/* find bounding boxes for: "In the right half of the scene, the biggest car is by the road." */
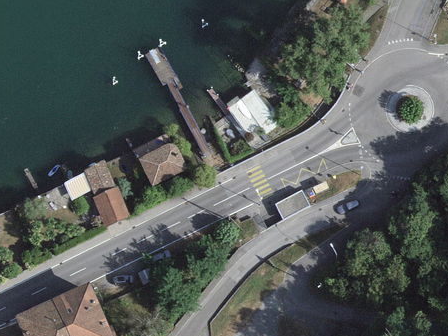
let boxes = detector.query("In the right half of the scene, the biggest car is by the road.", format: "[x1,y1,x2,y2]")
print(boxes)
[336,198,360,214]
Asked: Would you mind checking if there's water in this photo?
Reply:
Yes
